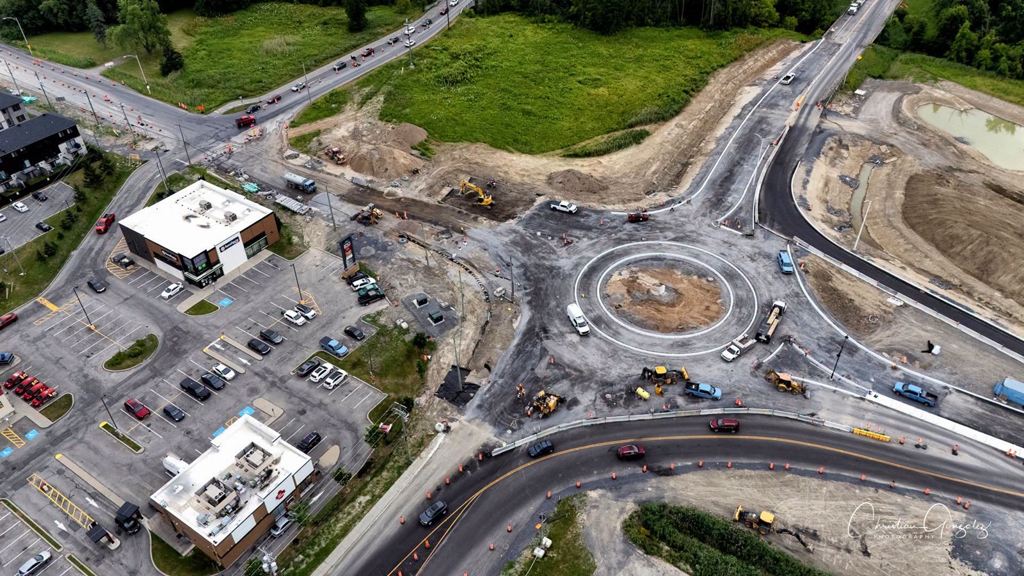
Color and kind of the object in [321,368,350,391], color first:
white car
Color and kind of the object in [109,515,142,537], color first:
black car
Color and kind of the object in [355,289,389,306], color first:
black vehicle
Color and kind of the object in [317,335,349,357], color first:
blue truck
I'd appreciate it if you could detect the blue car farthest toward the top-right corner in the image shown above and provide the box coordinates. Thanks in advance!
[778,253,793,272]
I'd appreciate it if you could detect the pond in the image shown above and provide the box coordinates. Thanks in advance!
[916,102,1024,171]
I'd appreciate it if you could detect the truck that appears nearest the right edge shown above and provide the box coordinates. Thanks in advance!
[987,377,1024,404]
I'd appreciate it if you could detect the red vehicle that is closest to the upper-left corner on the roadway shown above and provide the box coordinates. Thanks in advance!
[93,213,117,232]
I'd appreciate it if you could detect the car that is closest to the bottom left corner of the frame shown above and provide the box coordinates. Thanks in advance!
[13,546,56,576]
